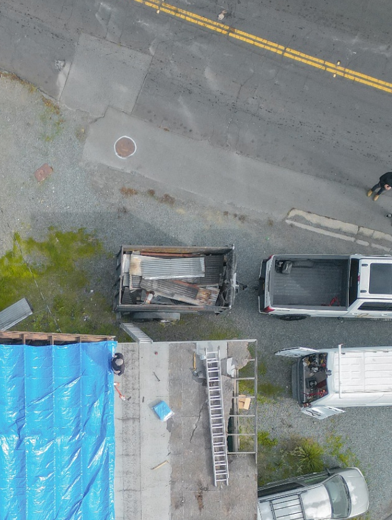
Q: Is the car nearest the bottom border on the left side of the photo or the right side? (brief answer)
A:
right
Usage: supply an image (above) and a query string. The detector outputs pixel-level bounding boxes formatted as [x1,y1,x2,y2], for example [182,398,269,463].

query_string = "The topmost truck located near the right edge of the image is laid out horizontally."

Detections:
[249,254,392,322]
